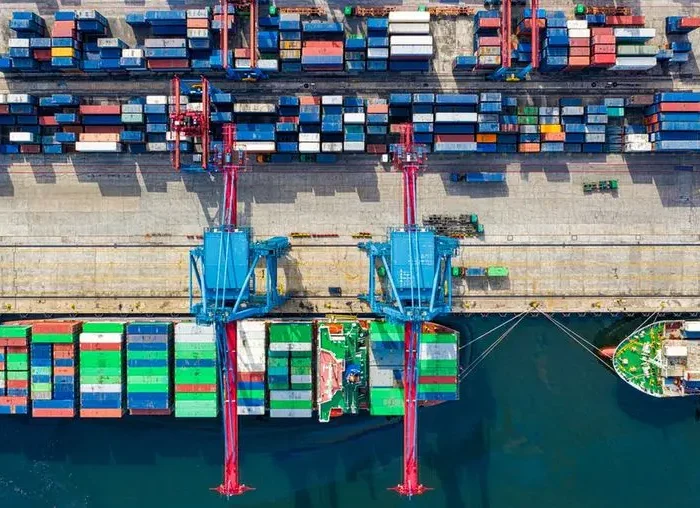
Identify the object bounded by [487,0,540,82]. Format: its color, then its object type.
red crane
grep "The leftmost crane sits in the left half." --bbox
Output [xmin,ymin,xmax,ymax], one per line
[170,76,222,176]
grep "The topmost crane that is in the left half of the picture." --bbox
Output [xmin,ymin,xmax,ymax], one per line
[218,0,267,83]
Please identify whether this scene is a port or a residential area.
port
